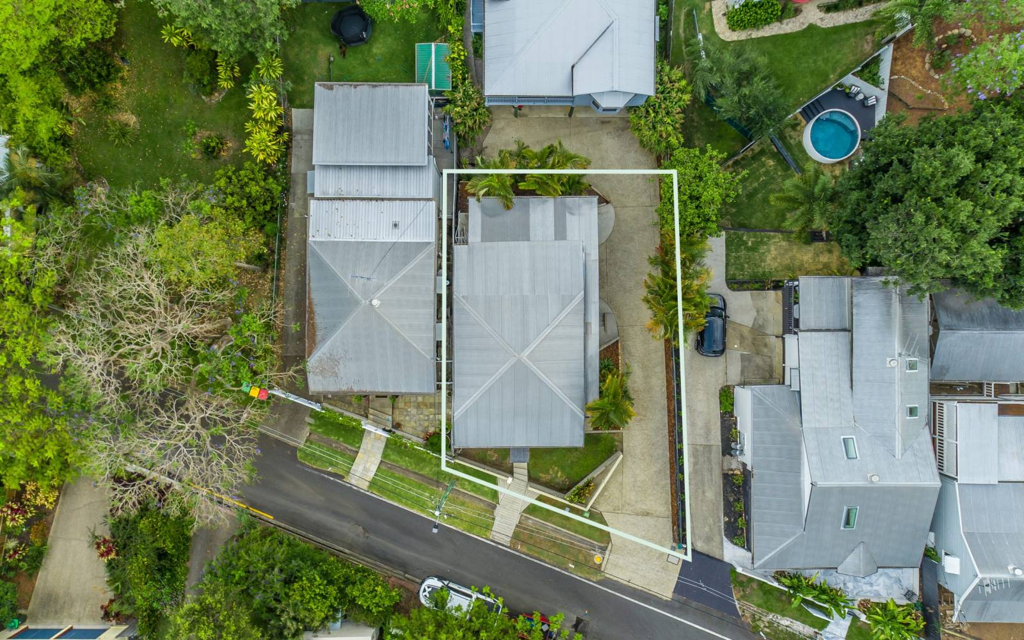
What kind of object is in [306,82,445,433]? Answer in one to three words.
house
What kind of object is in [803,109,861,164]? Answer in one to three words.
swimming pool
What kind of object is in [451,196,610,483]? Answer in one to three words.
house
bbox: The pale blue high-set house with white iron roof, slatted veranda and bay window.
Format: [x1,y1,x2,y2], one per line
[471,0,659,120]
